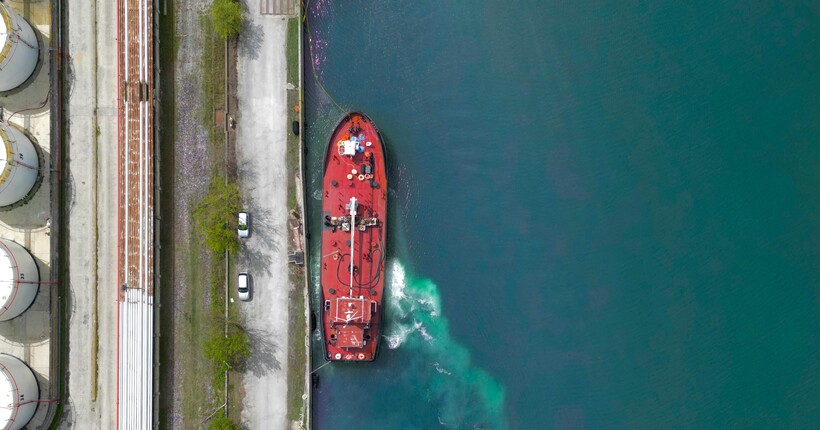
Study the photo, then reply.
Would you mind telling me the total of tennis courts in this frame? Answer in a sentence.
No tennis courts are visible.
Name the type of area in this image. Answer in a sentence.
The picture captures an industrial area.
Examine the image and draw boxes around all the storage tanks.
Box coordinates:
[0,235,59,322]
[0,119,59,211]
[0,352,59,430]
[0,0,59,97]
